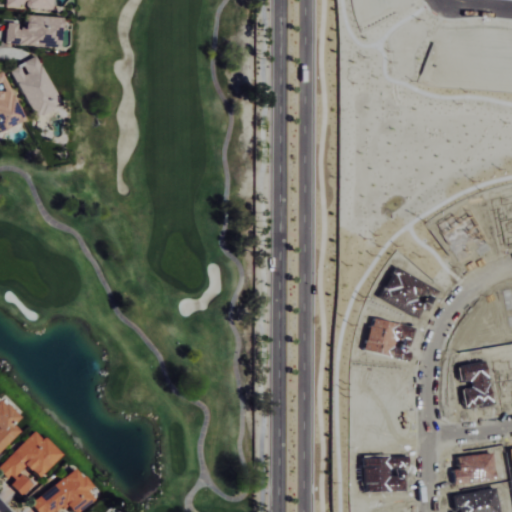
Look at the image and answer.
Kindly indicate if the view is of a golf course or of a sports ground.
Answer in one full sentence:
This looks like a golf course.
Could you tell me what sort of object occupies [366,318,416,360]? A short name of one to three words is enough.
house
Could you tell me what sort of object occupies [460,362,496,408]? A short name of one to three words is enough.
house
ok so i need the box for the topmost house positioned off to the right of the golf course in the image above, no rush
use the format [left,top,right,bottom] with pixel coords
[383,270,440,318]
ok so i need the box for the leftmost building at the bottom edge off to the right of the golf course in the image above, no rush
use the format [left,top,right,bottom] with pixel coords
[364,458,410,492]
